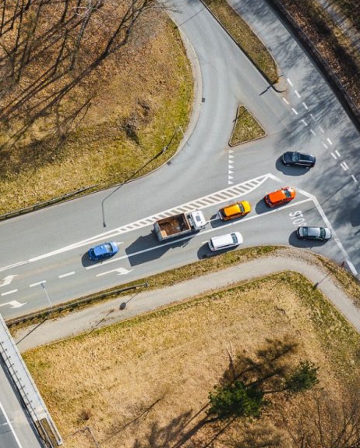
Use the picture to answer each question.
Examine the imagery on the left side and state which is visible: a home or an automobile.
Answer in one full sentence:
There is an automobile on the left side.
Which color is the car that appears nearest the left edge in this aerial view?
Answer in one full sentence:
The color of the car that appears nearest the left edge is blue.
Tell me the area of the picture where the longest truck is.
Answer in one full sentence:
You can find the longest truck in the center area of the picture.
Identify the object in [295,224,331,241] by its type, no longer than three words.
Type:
car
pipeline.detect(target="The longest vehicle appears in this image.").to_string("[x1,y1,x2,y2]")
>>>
[147,206,215,248]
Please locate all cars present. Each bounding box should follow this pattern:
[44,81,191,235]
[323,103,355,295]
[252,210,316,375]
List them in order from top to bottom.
[280,150,317,169]
[262,186,295,207]
[217,200,250,221]
[295,224,331,241]
[205,231,243,251]
[87,241,119,262]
